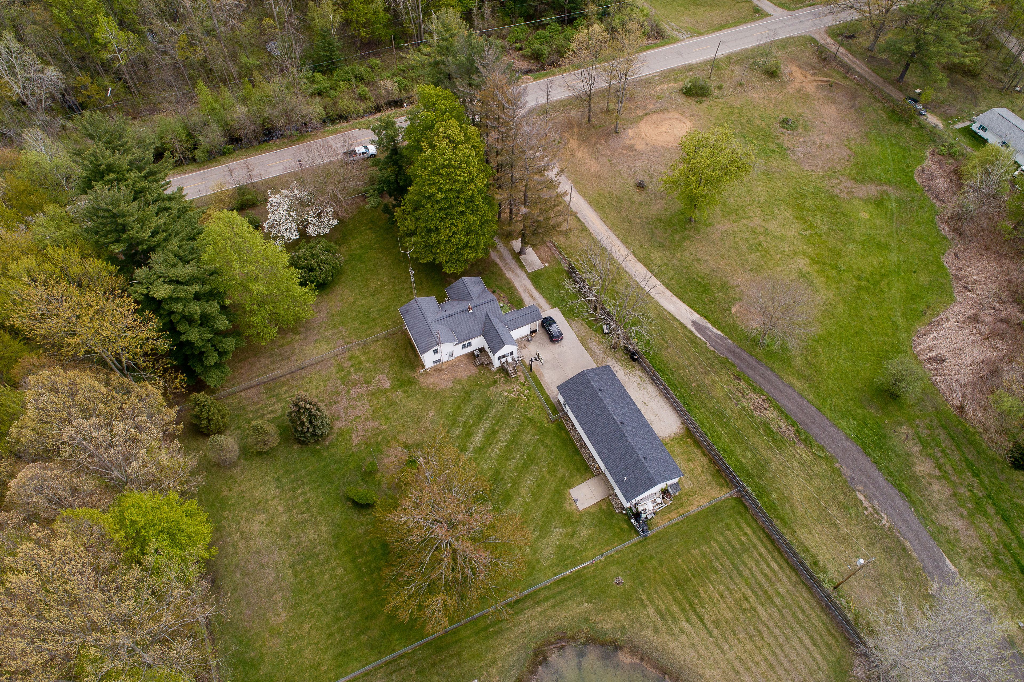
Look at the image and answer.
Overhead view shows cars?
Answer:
Yes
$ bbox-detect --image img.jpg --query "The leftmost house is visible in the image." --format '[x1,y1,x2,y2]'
[399,277,543,372]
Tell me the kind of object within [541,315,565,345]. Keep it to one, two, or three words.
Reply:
car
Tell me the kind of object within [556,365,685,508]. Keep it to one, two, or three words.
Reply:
barn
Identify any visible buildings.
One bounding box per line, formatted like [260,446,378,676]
[556,365,685,508]
[399,277,543,372]
[970,112,1024,172]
